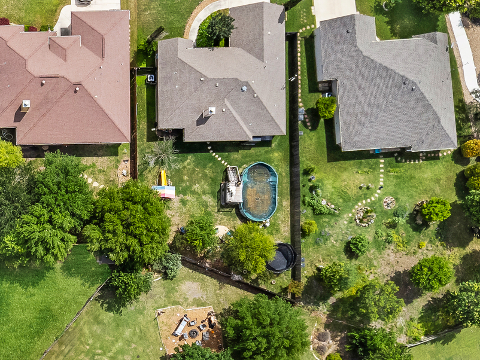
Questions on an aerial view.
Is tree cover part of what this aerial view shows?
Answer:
Yes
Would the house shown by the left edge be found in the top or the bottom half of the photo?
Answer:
top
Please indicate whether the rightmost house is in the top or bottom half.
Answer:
top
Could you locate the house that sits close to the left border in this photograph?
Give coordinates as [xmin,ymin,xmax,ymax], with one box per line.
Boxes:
[0,10,130,146]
